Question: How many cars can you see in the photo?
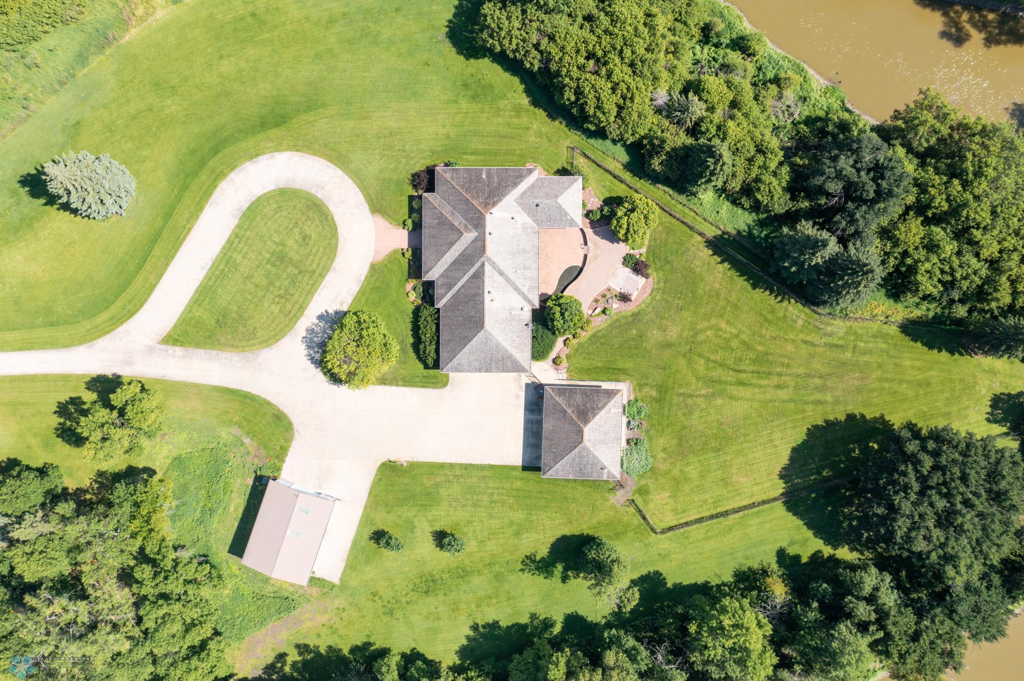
0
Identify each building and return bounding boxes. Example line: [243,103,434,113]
[422,167,583,373]
[241,476,339,586]
[541,386,624,481]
